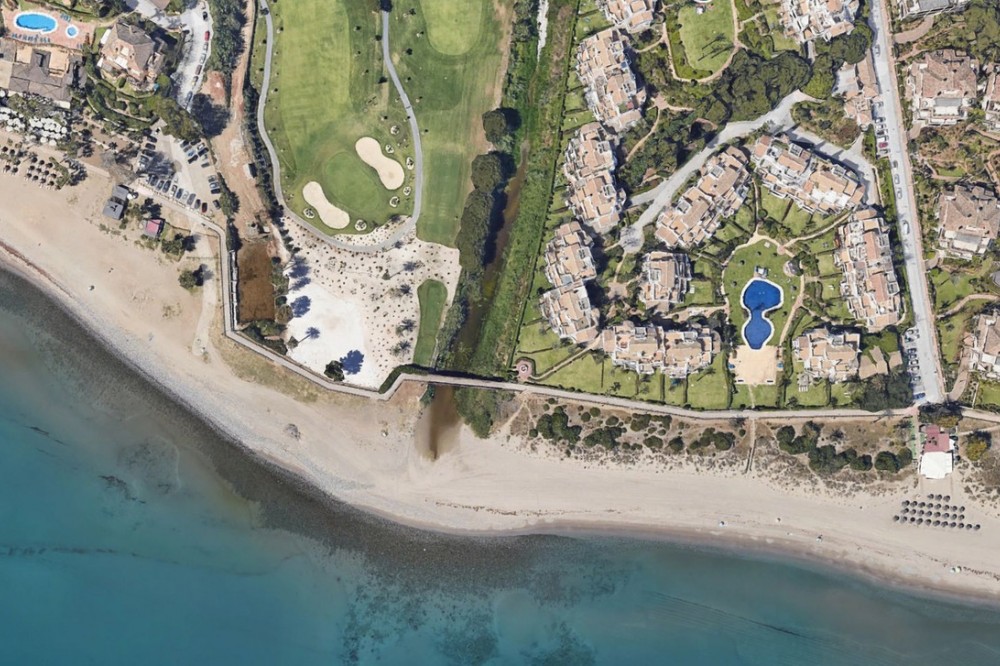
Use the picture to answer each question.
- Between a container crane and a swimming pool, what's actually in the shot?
swimming pool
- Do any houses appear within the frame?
Yes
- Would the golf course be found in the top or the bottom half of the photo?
top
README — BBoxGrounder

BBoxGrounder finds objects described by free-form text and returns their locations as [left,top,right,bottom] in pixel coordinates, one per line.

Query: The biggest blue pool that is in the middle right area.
[741,278,783,352]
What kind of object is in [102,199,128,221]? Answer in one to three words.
shed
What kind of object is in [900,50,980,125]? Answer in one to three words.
house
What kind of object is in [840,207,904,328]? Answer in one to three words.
building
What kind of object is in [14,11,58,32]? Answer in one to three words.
swimming pool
